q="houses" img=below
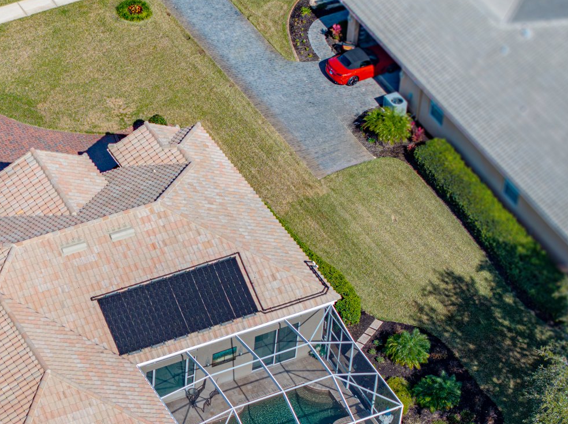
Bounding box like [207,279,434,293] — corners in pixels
[341,0,568,289]
[0,115,341,424]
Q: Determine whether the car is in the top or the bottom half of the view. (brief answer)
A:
top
